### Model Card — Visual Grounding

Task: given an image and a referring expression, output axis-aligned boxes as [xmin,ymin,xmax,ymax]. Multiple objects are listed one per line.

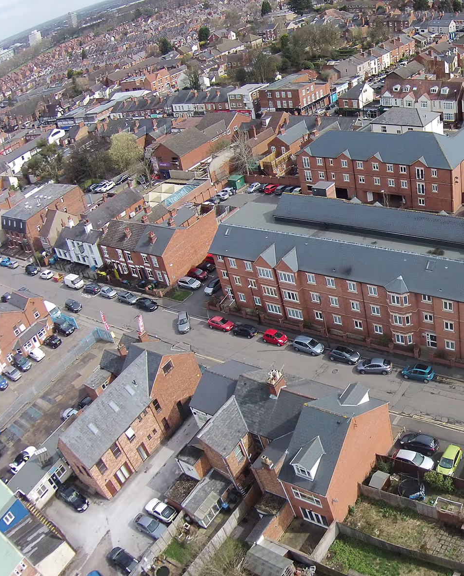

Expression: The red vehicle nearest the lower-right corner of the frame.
[262,328,289,345]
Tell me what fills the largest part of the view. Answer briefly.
buildings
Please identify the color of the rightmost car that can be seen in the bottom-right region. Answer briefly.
green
